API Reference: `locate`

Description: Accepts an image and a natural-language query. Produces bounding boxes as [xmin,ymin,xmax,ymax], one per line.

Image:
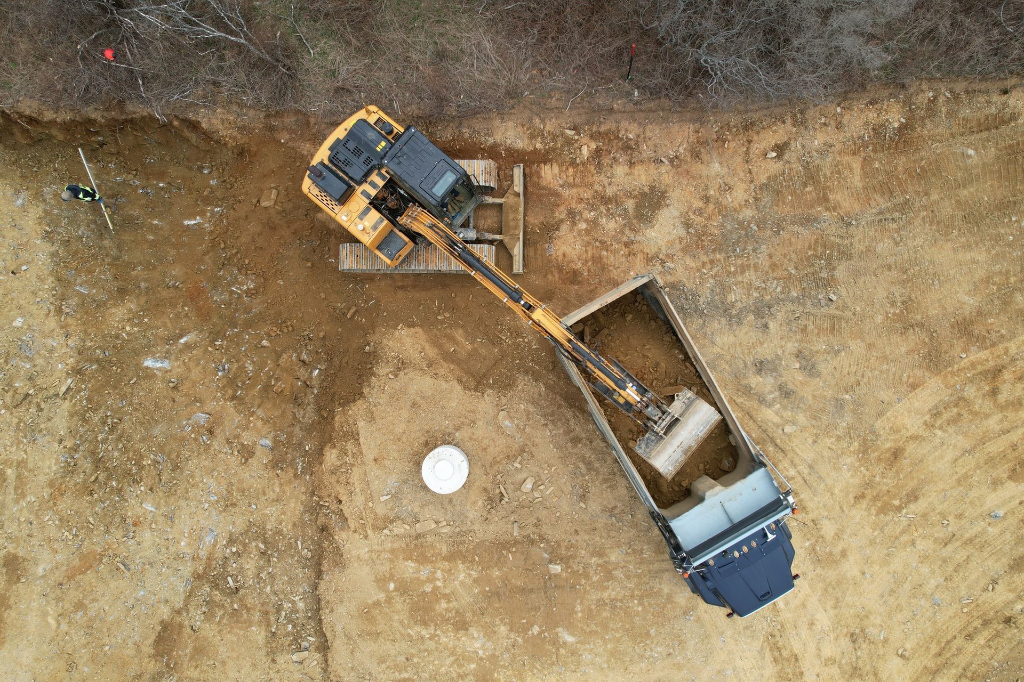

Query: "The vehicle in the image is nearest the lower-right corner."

[554,270,815,617]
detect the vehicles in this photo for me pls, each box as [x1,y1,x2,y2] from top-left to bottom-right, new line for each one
[554,270,815,617]
[304,101,721,480]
